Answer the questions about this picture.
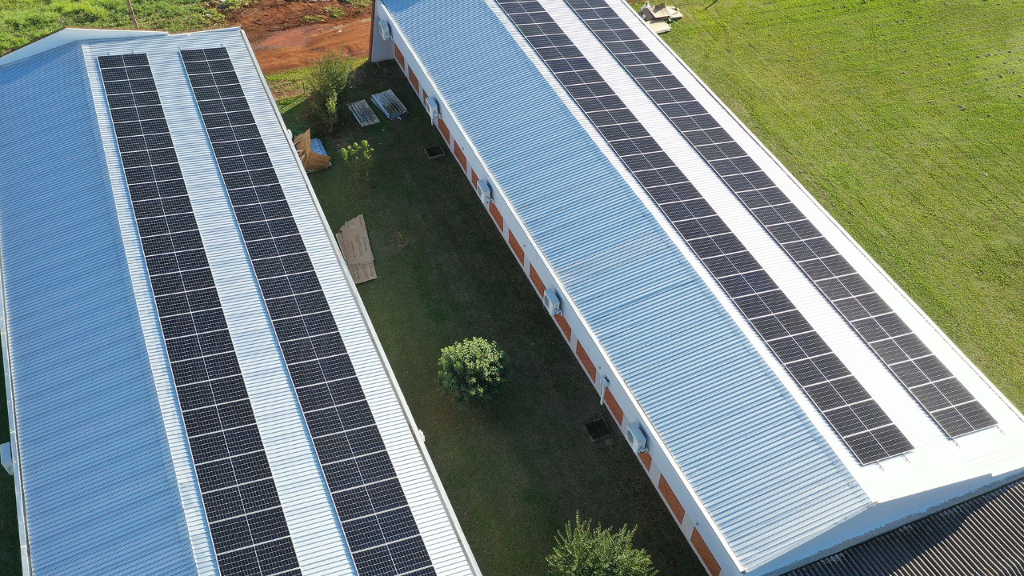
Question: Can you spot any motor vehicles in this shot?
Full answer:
No, no motor vehicle is visible in the view.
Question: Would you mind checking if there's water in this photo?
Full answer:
No, there's no water in this view.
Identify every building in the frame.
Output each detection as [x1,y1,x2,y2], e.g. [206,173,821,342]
[370,0,1024,576]
[0,25,482,576]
